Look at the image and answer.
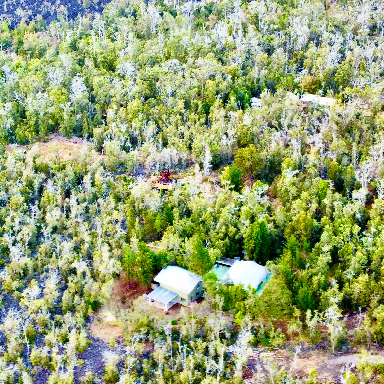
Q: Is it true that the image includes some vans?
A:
No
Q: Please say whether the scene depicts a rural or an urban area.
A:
rural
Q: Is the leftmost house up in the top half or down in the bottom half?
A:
bottom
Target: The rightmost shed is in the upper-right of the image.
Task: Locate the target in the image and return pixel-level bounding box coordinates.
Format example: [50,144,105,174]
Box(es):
[300,95,343,114]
